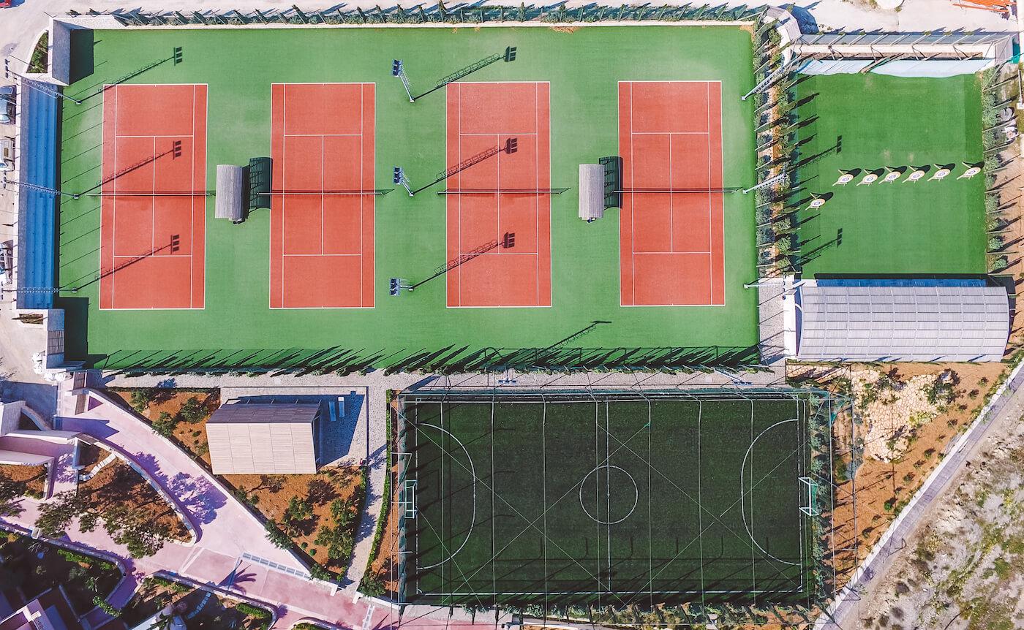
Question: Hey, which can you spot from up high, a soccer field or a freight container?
soccer field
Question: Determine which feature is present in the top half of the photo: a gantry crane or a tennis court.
tennis court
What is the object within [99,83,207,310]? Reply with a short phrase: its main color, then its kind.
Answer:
red tennis court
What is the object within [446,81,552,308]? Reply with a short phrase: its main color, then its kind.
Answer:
red tennis court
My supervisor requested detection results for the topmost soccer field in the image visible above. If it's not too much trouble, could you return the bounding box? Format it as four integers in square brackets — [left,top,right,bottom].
[406,387,810,605]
